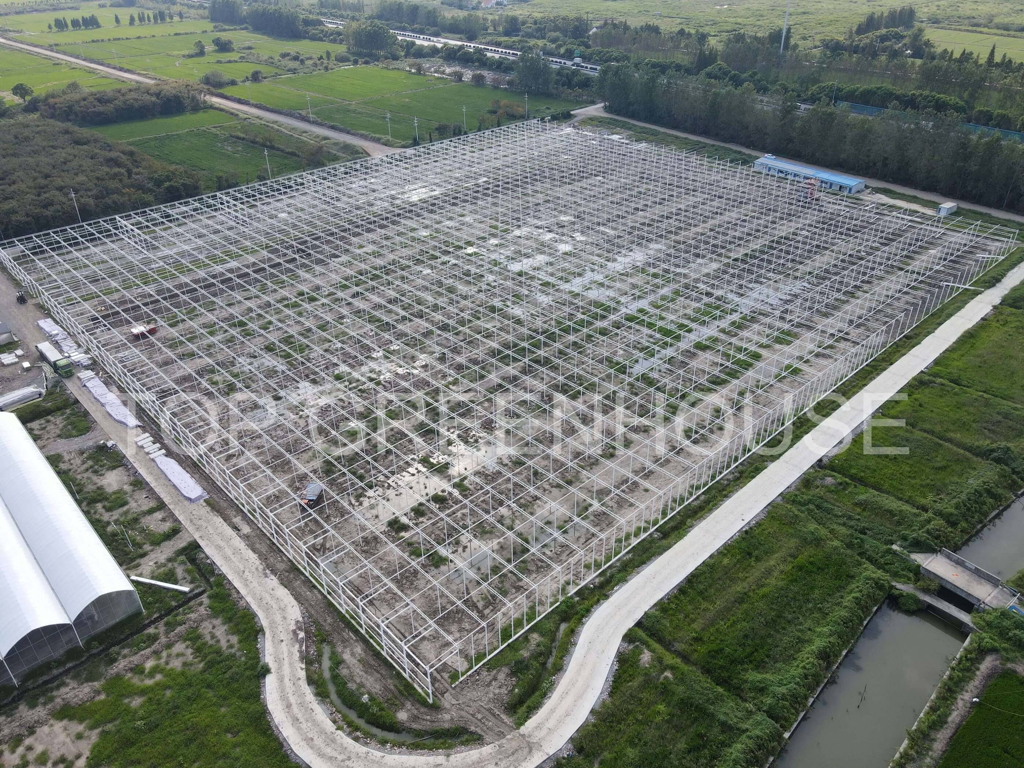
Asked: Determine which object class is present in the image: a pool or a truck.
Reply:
truck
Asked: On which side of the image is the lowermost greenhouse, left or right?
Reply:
left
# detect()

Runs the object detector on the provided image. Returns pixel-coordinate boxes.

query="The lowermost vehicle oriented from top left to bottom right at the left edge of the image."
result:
[40,341,73,380]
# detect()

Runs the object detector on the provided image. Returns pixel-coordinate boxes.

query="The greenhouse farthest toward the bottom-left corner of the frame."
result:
[0,408,145,687]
